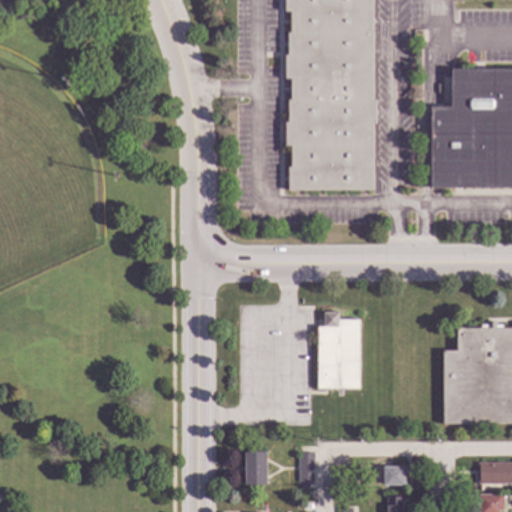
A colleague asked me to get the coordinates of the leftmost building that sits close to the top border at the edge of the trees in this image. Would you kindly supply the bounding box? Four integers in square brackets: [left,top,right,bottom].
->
[286,0,376,190]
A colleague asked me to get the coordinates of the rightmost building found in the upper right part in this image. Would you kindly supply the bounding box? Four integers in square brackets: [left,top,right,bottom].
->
[432,68,512,188]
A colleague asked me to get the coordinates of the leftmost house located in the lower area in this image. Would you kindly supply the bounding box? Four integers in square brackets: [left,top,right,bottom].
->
[246,452,268,485]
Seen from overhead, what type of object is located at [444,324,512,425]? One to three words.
building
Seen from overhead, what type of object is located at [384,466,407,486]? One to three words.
house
